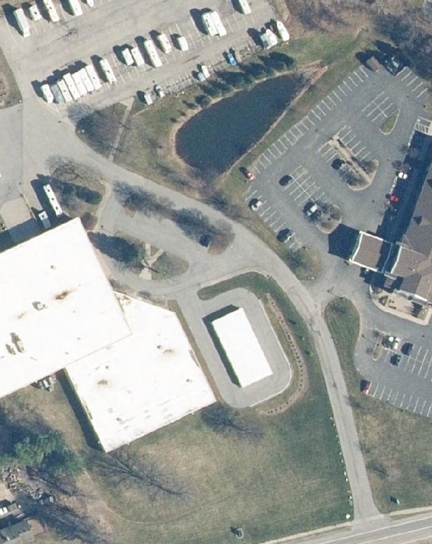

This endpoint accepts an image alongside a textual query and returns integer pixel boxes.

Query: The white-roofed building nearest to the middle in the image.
[212,308,272,389]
